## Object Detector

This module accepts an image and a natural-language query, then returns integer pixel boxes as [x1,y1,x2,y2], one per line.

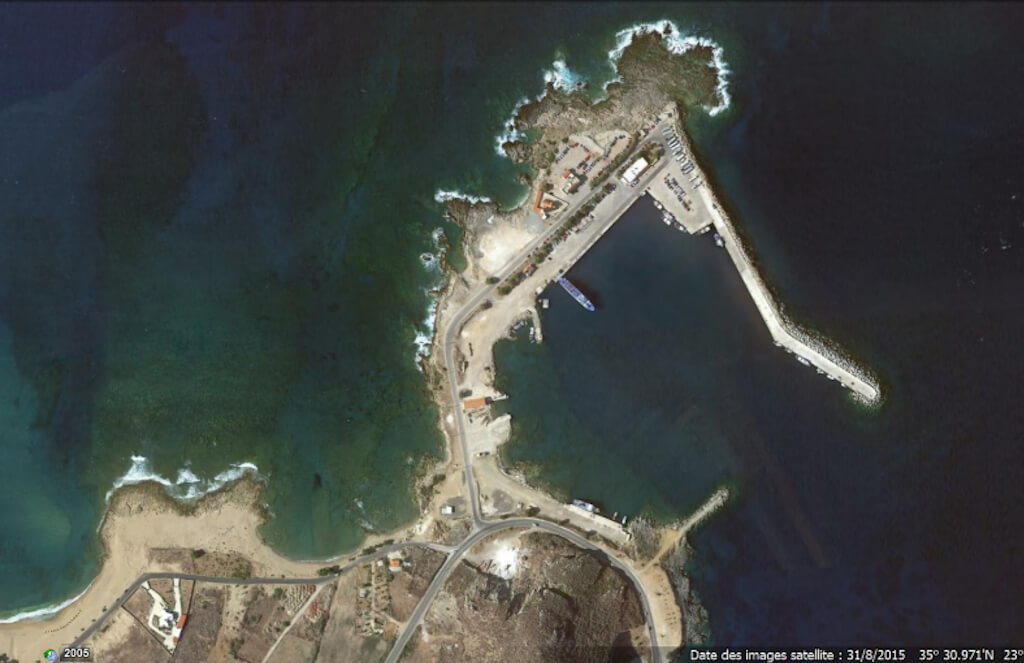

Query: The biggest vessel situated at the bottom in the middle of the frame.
[572,498,596,510]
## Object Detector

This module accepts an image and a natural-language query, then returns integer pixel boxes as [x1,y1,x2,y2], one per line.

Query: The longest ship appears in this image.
[557,276,594,309]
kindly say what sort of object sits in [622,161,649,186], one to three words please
building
